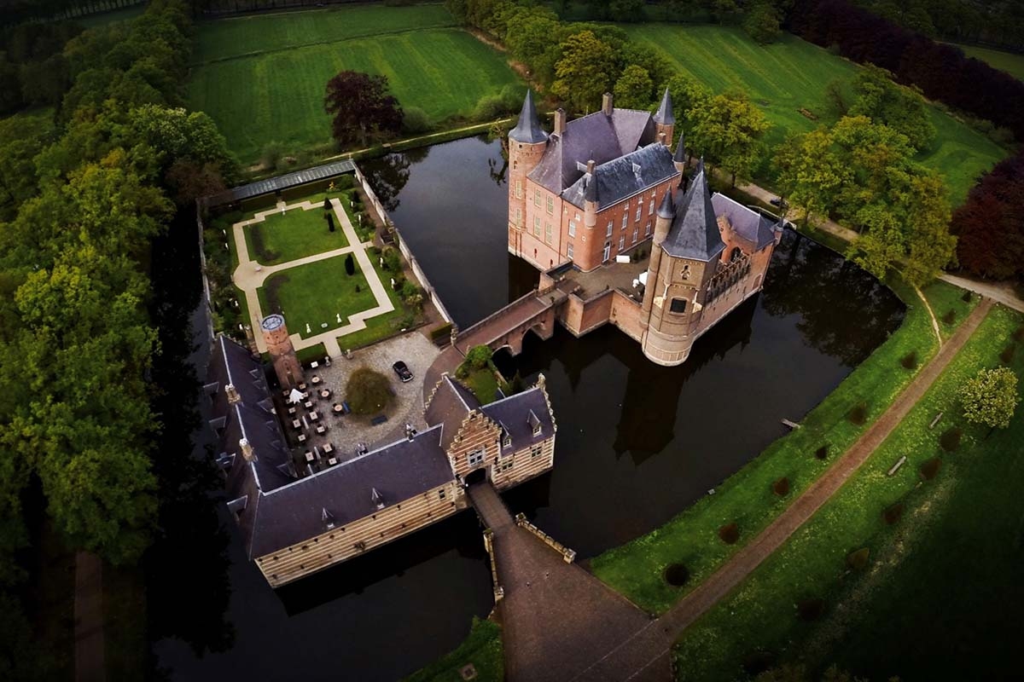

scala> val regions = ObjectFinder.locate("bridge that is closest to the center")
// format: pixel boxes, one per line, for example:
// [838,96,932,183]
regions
[462,287,555,360]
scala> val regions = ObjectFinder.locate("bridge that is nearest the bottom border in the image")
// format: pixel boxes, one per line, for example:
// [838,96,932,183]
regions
[467,481,520,546]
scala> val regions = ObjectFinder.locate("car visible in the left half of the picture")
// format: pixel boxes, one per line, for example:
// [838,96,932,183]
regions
[393,362,412,383]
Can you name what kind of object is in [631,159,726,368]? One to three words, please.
building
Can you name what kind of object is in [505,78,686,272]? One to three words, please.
building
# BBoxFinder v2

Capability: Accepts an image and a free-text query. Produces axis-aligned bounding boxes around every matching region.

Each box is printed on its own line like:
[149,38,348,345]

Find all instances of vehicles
[768,198,789,209]
[393,362,412,383]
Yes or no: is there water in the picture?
Yes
